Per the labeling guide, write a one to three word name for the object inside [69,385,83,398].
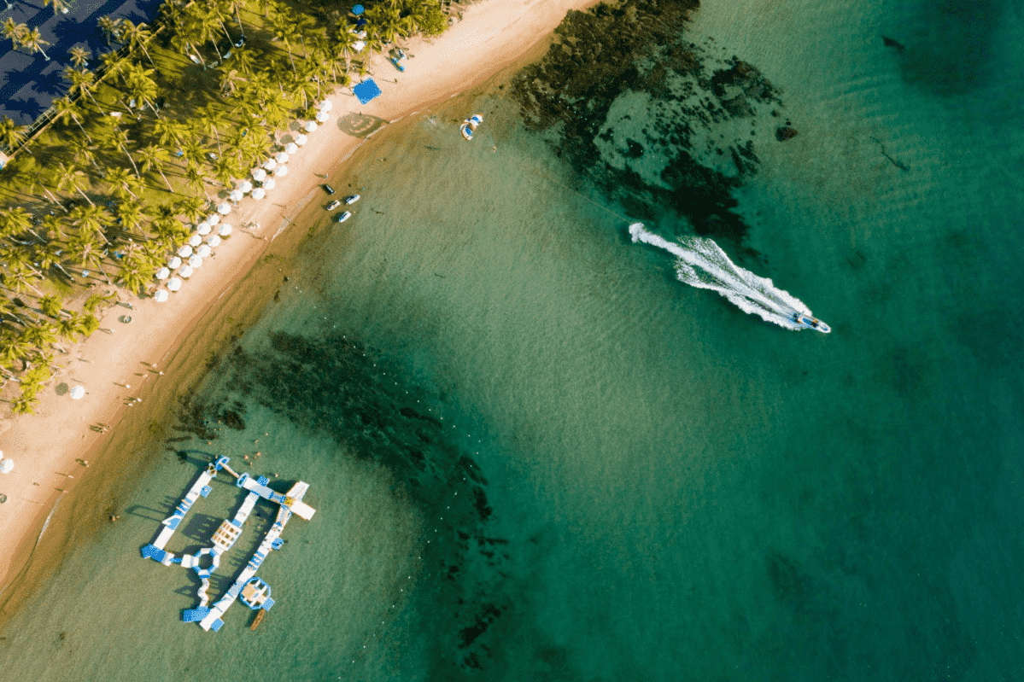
umbrella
